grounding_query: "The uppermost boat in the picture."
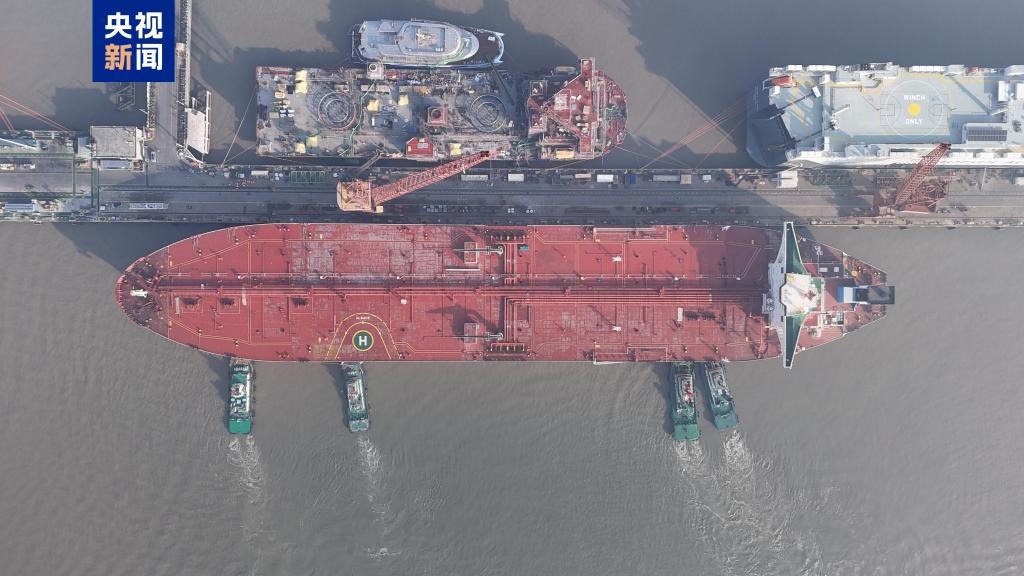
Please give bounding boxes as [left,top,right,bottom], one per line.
[353,19,505,68]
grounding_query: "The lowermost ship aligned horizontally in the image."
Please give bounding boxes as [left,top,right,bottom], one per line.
[114,220,893,369]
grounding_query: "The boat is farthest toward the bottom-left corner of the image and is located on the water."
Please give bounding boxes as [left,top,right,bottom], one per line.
[223,359,257,434]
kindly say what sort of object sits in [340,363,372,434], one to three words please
boat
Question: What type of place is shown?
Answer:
port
